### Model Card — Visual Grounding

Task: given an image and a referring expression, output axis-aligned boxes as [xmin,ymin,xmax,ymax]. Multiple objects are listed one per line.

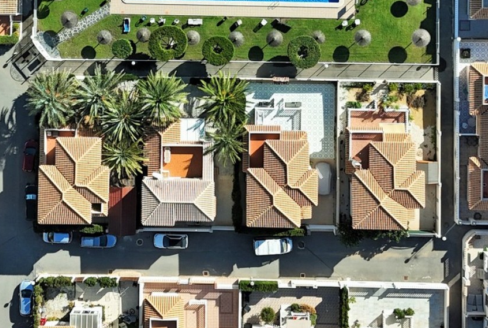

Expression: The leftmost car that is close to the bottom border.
[18,278,36,316]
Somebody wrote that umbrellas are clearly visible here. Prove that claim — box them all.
[61,11,79,29]
[311,30,326,44]
[354,29,371,45]
[411,29,430,47]
[97,30,112,45]
[186,30,201,43]
[137,29,150,43]
[229,31,243,46]
[265,30,282,46]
